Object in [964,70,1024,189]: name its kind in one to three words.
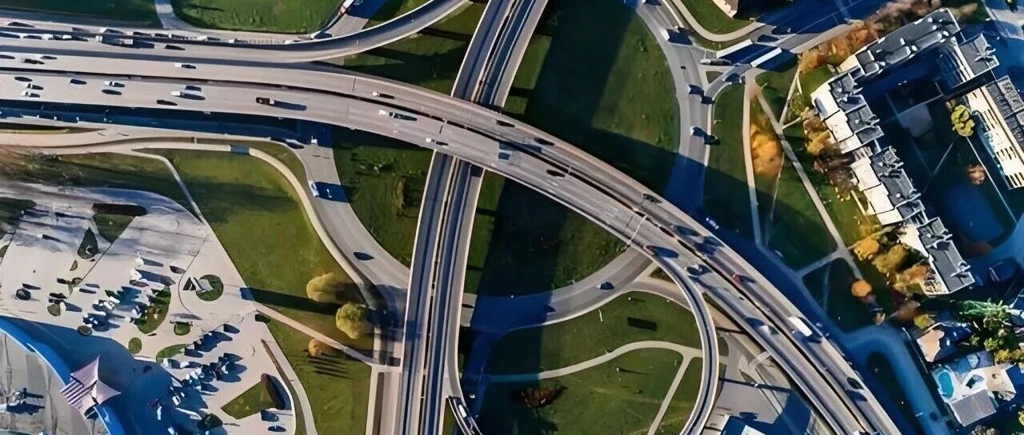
building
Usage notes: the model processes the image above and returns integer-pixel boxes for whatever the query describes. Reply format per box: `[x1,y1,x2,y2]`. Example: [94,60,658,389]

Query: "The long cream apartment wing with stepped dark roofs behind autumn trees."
[812,72,976,296]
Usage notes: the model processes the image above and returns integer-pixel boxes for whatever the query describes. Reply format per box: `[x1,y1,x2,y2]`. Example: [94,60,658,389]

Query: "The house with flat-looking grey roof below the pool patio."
[946,388,998,427]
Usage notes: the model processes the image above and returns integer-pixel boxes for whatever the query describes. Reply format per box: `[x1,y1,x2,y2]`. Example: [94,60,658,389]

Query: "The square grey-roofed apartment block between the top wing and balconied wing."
[939,32,1000,82]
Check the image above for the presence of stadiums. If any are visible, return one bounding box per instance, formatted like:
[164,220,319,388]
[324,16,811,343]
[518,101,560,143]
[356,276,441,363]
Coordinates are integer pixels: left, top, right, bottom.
[0,315,125,435]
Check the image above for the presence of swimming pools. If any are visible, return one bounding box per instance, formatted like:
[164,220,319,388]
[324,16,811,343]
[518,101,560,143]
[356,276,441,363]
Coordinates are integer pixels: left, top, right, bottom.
[939,369,955,398]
